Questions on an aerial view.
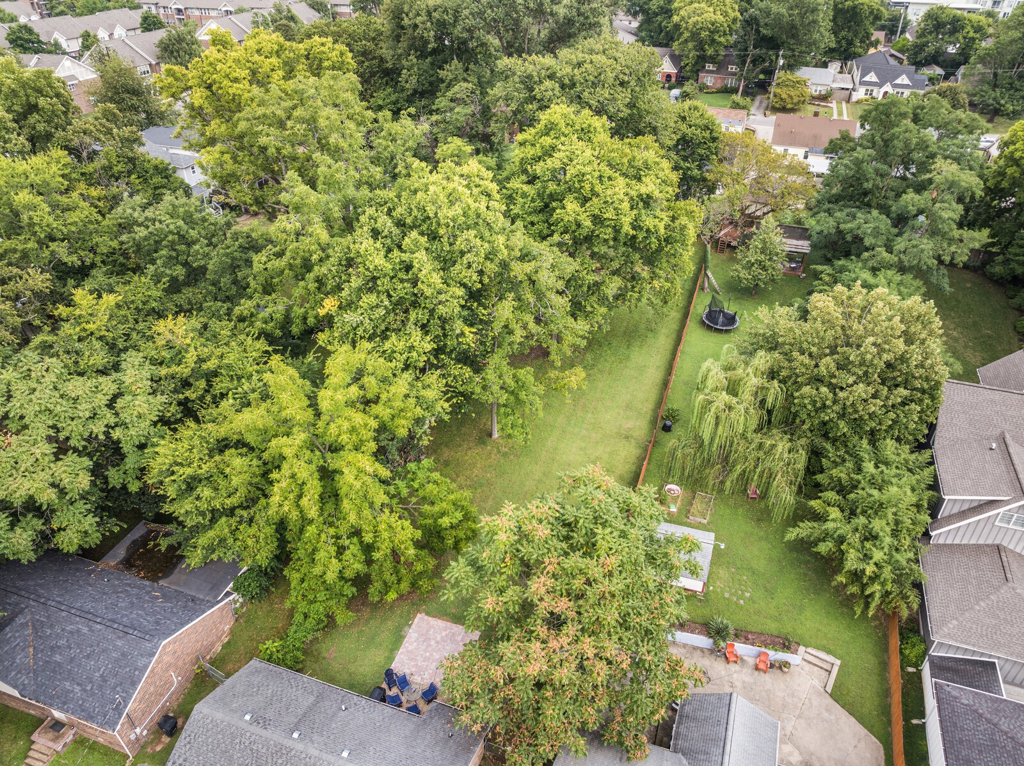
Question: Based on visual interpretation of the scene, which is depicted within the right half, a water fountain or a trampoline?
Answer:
trampoline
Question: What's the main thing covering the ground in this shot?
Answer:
trees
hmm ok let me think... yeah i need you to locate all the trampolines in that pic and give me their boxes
[703,297,747,344]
